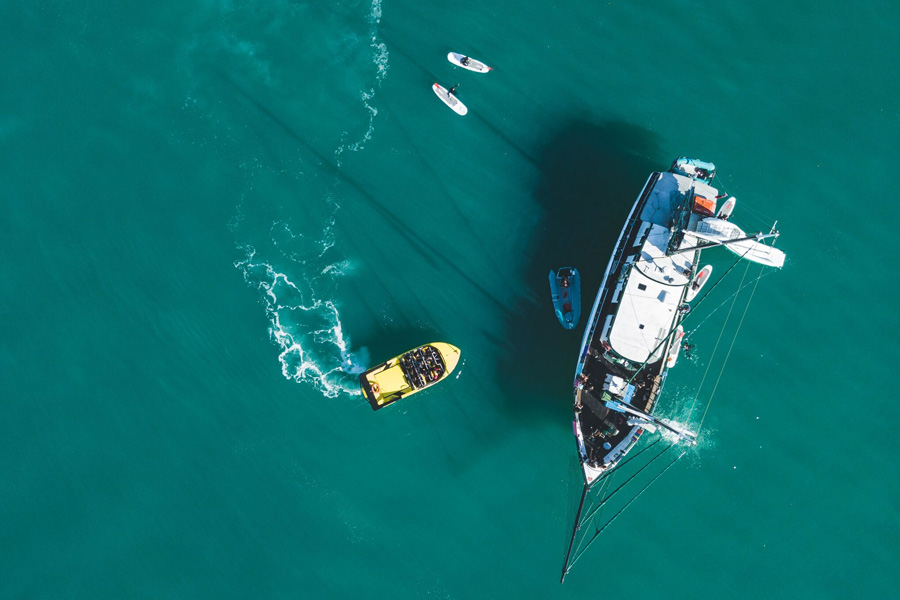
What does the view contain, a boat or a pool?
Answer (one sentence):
Looking from above, you can make out a boat.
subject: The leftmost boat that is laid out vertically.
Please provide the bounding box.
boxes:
[549,264,581,330]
